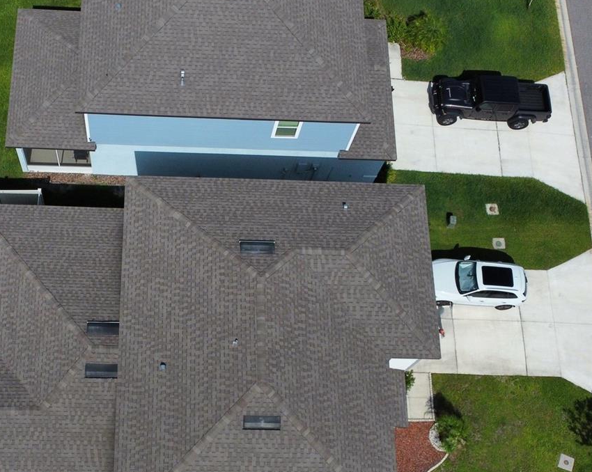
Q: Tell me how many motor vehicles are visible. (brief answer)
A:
2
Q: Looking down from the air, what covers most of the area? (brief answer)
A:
buildings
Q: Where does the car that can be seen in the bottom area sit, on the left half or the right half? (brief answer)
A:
right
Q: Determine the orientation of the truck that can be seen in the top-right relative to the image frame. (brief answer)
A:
from left to right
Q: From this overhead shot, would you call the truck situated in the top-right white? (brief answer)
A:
No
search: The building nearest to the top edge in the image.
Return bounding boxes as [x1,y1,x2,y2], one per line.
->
[5,0,399,183]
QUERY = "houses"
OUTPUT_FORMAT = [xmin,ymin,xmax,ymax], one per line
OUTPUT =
[0,176,441,472]
[5,0,399,183]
